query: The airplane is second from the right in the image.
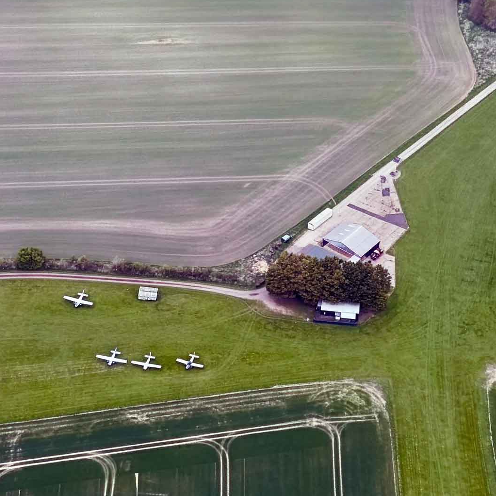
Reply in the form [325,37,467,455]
[131,353,161,372]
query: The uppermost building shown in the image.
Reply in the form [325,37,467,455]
[322,222,380,262]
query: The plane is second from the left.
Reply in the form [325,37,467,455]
[96,348,128,367]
